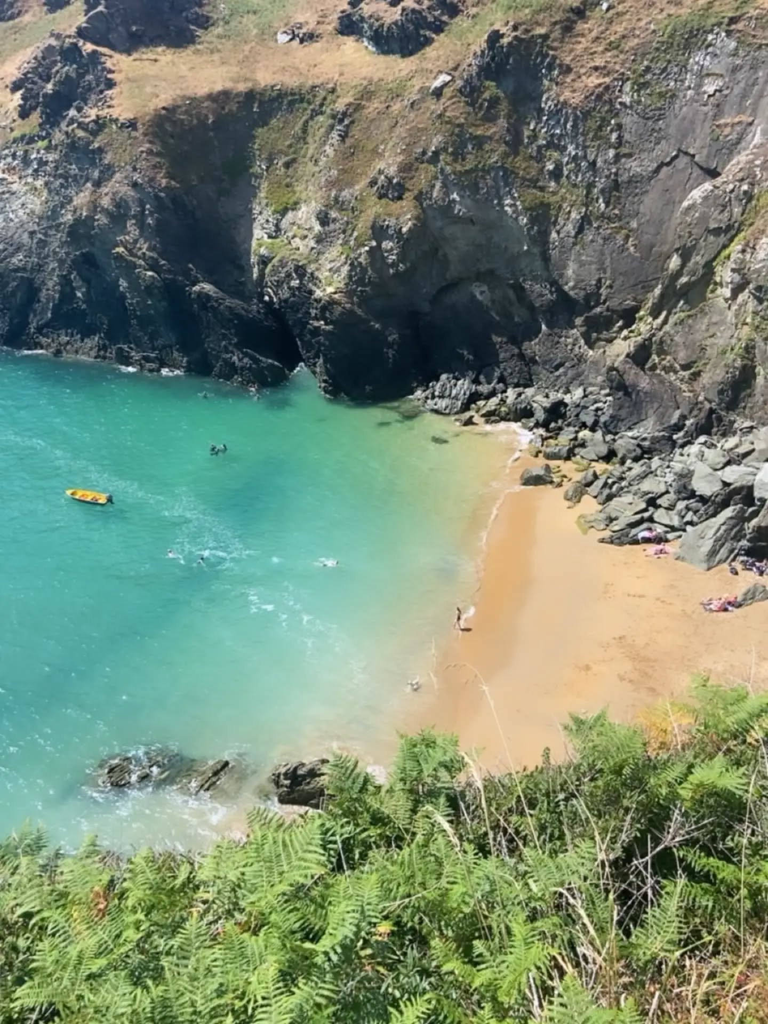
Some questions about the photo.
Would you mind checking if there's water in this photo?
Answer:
Yes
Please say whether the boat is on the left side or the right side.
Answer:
left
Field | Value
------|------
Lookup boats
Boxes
[64,492,111,512]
